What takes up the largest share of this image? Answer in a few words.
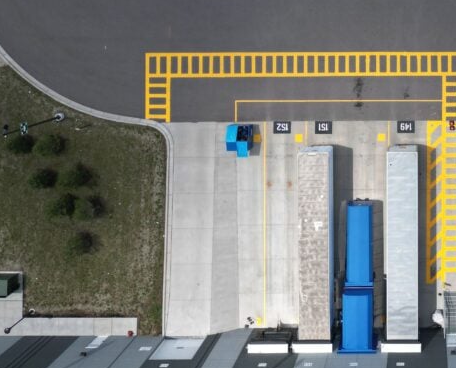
paved ground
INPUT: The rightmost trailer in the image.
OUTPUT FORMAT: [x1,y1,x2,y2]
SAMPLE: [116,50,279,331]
[386,145,419,342]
